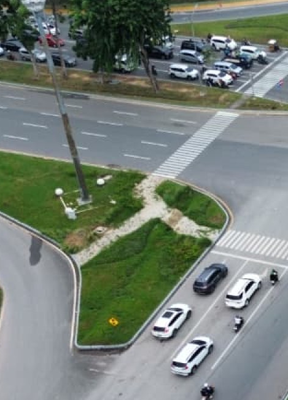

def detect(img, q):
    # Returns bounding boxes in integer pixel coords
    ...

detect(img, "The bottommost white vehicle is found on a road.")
[167,337,214,382]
